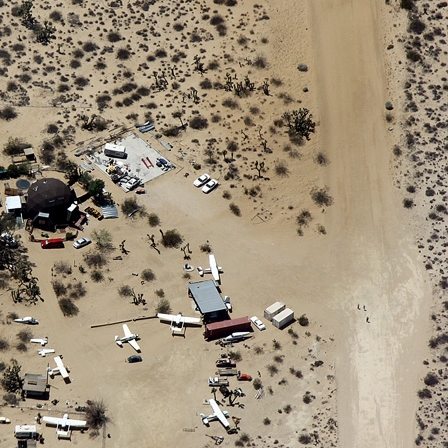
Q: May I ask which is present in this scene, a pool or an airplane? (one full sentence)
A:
Of the two, only an airplane appears.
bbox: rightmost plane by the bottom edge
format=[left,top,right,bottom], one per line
[198,398,228,427]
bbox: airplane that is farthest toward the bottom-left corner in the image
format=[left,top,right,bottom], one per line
[42,415,86,440]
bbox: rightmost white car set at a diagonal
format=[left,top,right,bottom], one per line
[249,316,267,330]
